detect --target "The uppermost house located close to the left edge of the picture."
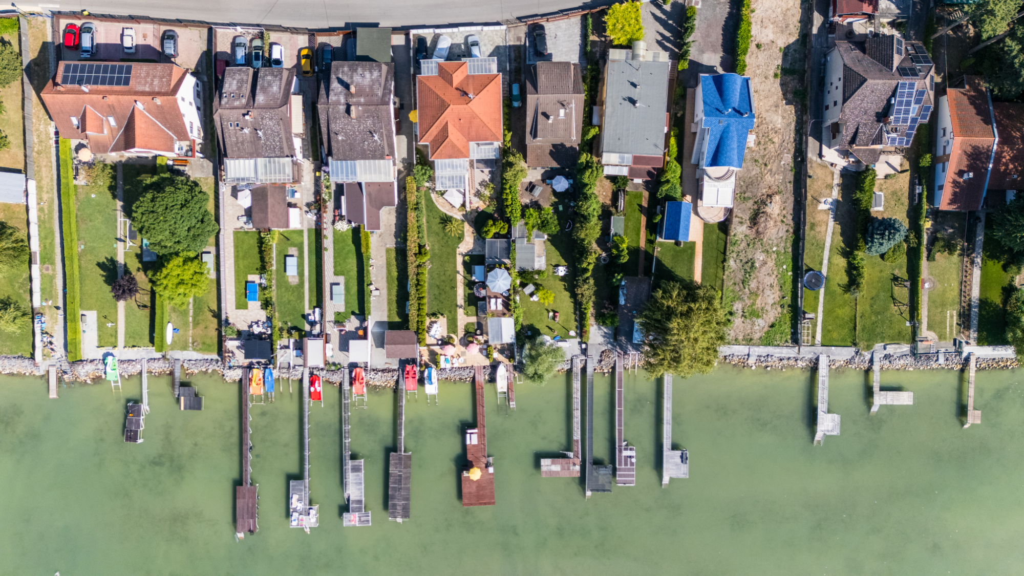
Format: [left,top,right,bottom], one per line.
[40,61,202,159]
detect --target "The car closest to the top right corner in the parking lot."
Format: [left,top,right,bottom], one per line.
[532,25,547,57]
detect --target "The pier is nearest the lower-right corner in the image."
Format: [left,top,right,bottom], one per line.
[961,353,981,429]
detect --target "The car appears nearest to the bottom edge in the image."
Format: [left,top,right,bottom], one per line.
[509,83,522,107]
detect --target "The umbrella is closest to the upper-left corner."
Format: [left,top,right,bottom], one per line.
[78,148,95,162]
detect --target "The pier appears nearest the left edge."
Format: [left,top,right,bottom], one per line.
[48,365,60,398]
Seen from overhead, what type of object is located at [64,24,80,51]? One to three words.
car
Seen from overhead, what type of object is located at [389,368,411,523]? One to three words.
pier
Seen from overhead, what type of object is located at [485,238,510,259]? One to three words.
shed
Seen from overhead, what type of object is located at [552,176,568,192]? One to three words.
umbrella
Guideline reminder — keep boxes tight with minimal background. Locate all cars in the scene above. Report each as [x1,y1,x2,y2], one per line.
[509,83,522,107]
[320,43,334,63]
[235,36,249,66]
[532,25,547,57]
[64,24,80,51]
[163,30,178,59]
[299,48,314,77]
[80,24,97,55]
[344,36,356,62]
[271,43,284,68]
[122,28,137,54]
[432,34,451,61]
[415,36,429,65]
[469,35,482,58]
[250,39,265,68]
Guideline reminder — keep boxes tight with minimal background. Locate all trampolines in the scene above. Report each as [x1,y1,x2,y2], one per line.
[808,270,824,290]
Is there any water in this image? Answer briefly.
Yes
